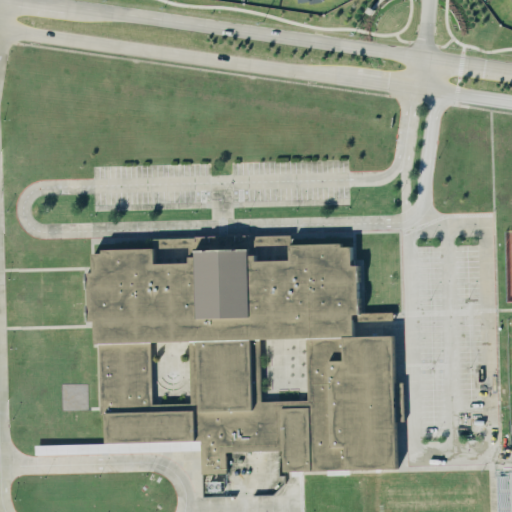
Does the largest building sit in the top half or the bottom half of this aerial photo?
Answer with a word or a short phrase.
bottom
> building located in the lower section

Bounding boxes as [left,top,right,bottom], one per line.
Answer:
[86,236,406,476]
